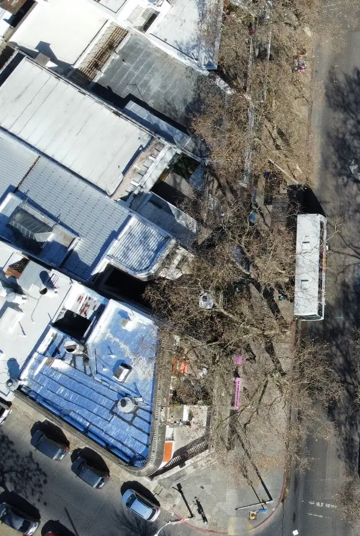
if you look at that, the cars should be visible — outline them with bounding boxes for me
[65,449,110,488]
[0,405,18,431]
[117,488,160,526]
[0,497,40,536]
[25,425,70,462]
